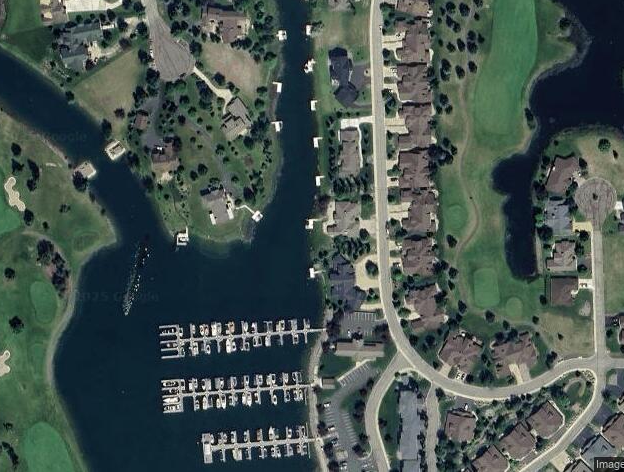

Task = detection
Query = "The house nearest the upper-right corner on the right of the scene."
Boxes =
[545,153,583,194]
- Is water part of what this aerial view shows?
Yes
